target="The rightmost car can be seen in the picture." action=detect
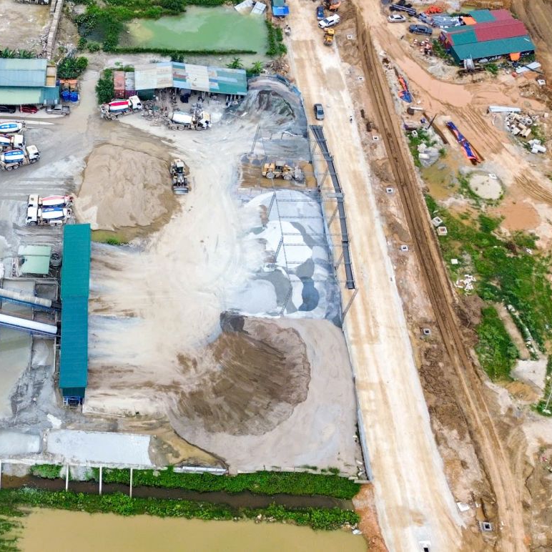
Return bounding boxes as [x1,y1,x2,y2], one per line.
[410,21,434,36]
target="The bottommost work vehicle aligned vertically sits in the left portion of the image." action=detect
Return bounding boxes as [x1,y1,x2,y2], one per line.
[172,158,189,196]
